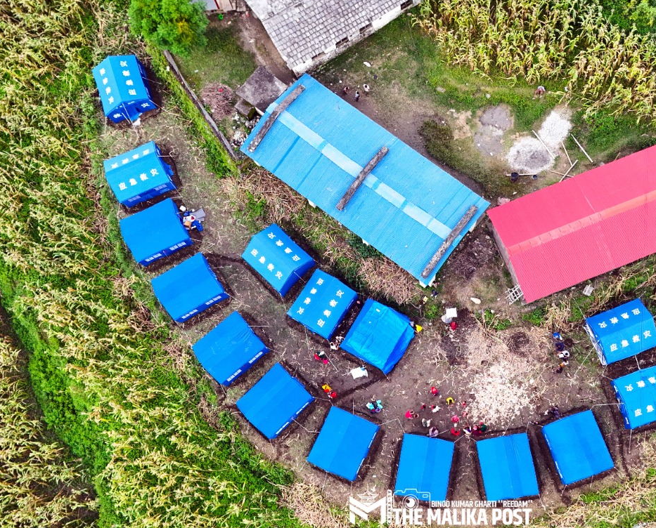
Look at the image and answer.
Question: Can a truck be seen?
No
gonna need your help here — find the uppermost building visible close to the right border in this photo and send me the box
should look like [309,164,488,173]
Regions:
[487,146,656,303]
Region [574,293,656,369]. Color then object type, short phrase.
blue tent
